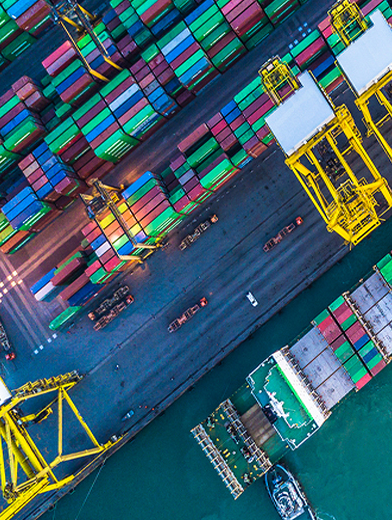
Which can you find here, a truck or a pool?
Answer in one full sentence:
The one in the frame is a truck.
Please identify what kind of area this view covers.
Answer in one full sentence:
What you see here is a port.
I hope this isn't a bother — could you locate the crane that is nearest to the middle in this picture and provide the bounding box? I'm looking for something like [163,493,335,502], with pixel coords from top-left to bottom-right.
[75,173,161,267]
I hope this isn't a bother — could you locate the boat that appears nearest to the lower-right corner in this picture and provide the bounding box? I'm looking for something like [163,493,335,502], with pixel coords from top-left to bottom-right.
[266,462,314,520]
